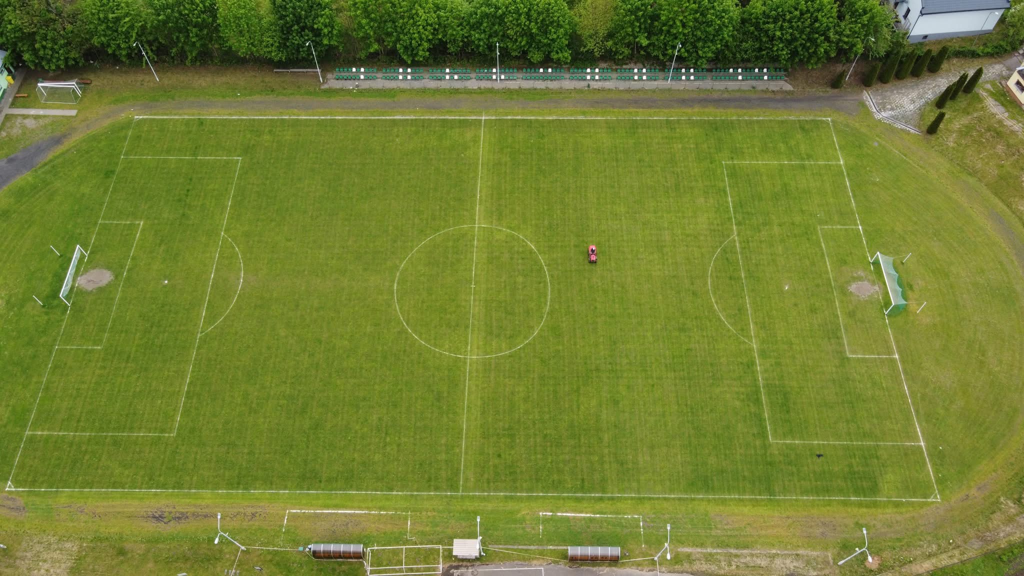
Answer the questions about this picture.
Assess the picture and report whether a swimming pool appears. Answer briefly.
No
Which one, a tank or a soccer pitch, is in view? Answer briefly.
soccer pitch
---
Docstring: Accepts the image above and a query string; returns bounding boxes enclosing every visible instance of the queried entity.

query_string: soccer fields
[6,111,939,500]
